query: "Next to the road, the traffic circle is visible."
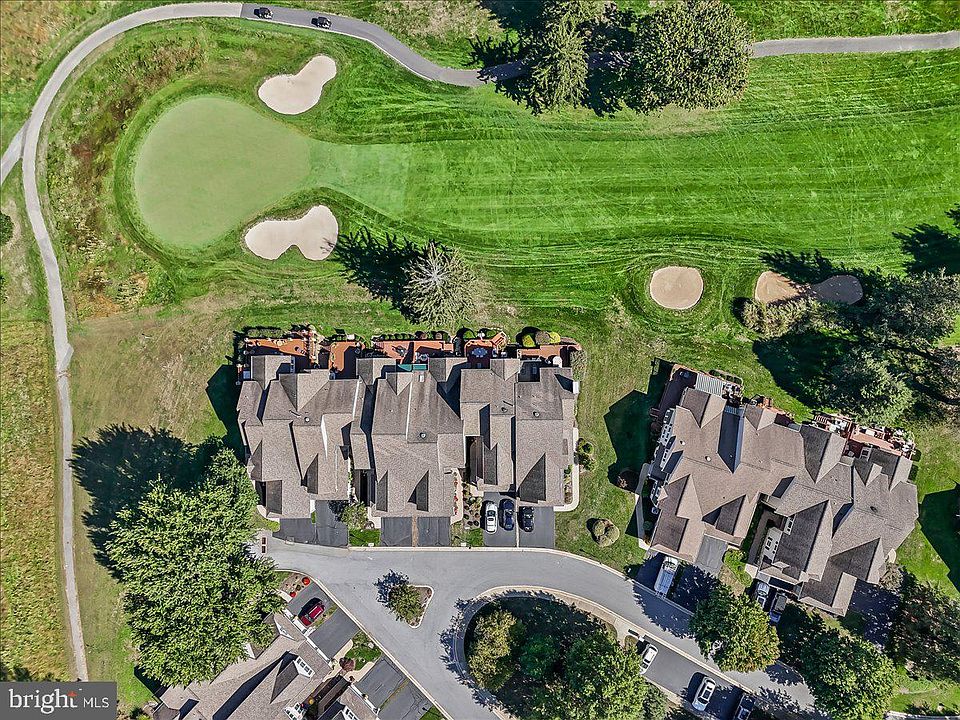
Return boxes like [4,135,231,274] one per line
[456,585,714,720]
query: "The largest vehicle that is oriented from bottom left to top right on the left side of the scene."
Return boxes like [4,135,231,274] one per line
[300,598,330,627]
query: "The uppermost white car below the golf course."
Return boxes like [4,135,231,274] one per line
[484,501,500,533]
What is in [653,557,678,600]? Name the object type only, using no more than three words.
vehicle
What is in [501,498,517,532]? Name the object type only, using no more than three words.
car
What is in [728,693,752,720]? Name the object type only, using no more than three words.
car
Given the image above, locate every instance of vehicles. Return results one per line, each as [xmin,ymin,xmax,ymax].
[520,506,536,532]
[653,557,678,600]
[501,498,517,532]
[728,693,752,720]
[768,588,789,625]
[638,642,660,676]
[300,598,330,627]
[313,15,334,32]
[255,6,276,22]
[484,501,500,533]
[692,673,716,711]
